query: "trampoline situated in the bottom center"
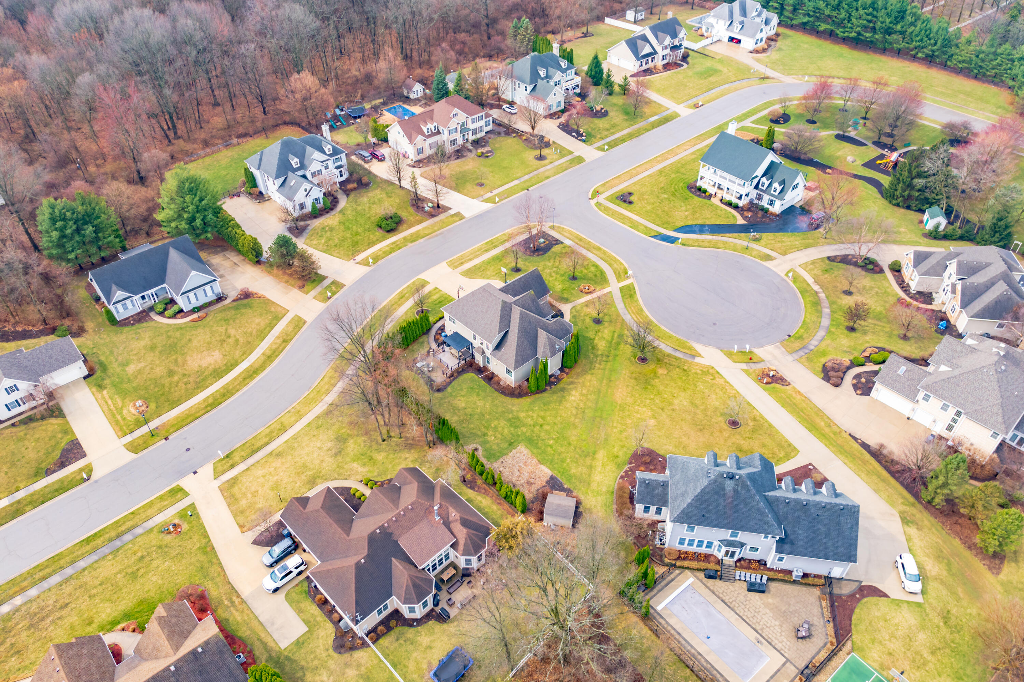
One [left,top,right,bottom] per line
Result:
[430,647,473,682]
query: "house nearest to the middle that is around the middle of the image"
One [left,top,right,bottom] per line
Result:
[431,267,581,382]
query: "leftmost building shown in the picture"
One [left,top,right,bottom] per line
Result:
[0,332,89,421]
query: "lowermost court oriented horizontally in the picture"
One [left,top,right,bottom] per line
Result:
[828,654,888,682]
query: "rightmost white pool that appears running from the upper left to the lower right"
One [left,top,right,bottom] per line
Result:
[657,578,770,680]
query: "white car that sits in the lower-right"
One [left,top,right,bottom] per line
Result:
[895,553,922,594]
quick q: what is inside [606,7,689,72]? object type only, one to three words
house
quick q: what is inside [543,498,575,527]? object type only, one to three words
shed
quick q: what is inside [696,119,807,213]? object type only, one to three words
house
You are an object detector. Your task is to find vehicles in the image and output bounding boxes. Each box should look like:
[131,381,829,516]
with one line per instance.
[260,535,301,571]
[731,37,740,44]
[501,104,519,114]
[895,553,922,594]
[370,150,386,161]
[354,150,374,162]
[263,555,308,594]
